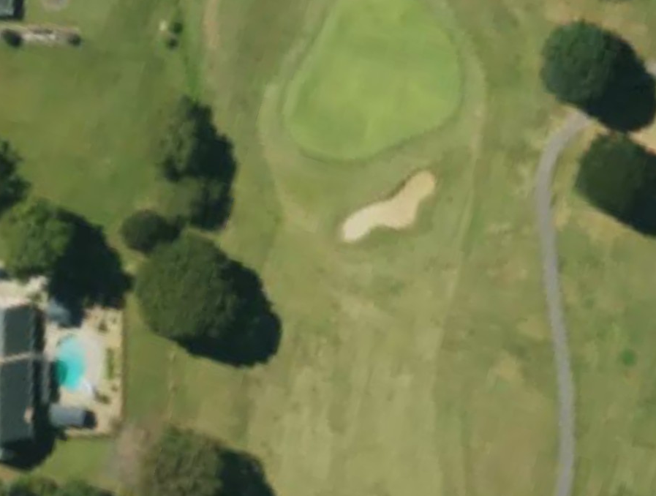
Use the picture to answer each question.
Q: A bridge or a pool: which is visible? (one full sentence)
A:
The one in the frame is a pool.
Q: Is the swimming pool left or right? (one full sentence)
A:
The swimming pool appears in the left half of the scene.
